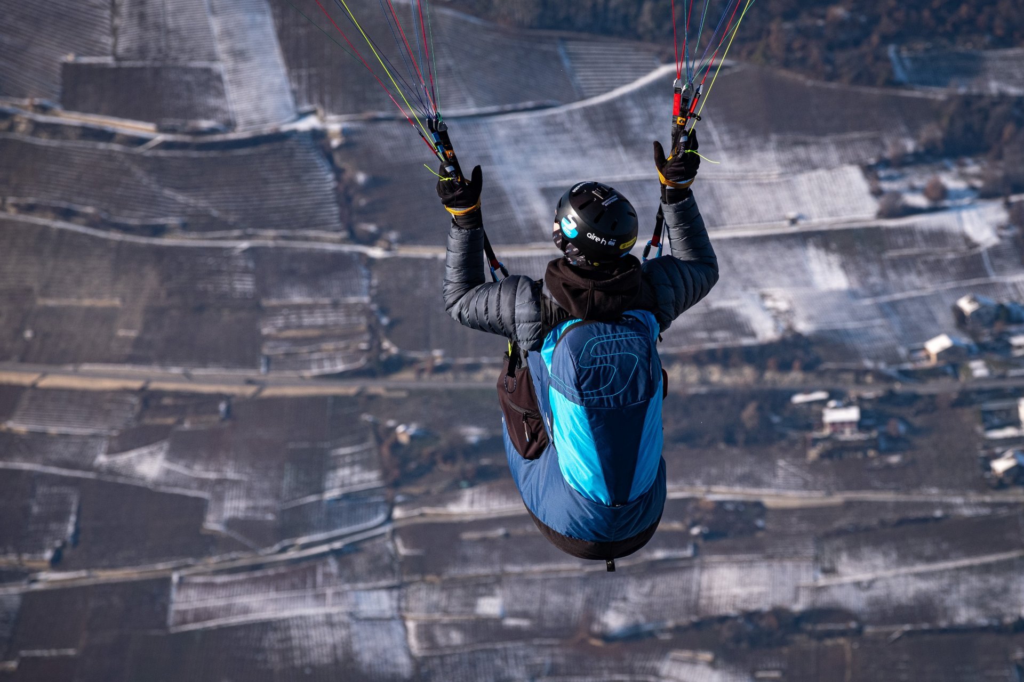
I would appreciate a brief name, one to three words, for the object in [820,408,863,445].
house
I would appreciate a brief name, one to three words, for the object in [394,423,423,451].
house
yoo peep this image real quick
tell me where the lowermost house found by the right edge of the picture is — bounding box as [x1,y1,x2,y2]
[985,454,1024,493]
